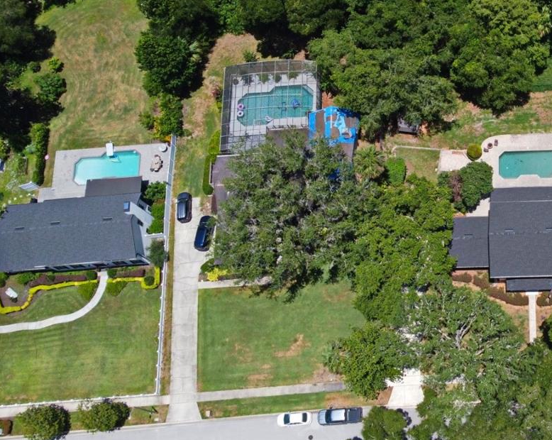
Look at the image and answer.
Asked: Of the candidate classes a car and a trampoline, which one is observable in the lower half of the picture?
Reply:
car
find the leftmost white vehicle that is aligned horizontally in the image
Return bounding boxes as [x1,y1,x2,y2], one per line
[277,409,314,427]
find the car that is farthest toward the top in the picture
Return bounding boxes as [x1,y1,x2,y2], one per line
[175,194,194,222]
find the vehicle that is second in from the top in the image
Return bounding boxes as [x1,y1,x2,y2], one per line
[193,218,216,249]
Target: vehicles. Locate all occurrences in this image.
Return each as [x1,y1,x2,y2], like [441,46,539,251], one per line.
[318,406,364,426]
[175,194,194,222]
[193,218,216,249]
[277,409,314,427]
